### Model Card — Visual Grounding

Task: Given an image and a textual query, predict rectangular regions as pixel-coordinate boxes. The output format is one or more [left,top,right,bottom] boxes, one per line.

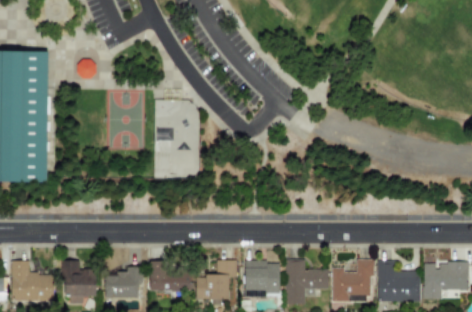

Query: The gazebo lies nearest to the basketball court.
[75,57,98,80]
